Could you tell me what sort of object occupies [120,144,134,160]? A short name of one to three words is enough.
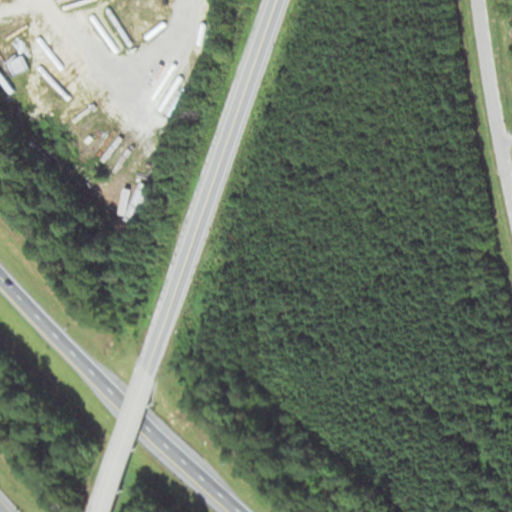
vehicle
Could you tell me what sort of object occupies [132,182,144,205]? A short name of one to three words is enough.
vehicle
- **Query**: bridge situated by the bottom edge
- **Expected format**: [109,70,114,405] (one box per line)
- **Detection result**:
[84,363,161,512]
